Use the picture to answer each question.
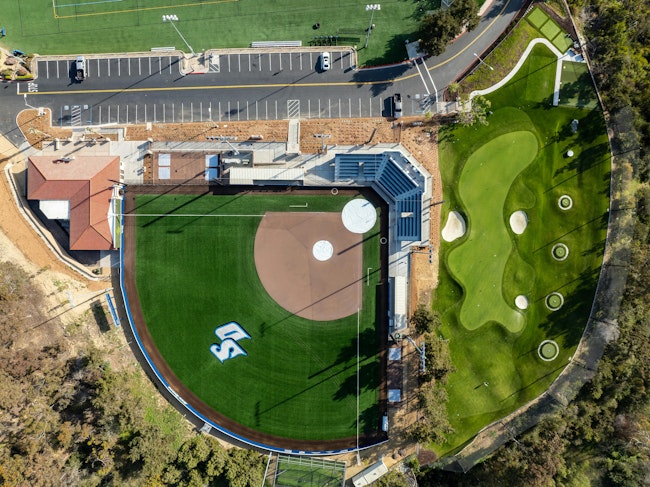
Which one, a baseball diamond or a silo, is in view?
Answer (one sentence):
Visible in the photo is a baseball diamond.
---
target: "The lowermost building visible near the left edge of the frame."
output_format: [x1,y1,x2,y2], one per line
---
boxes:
[27,156,125,250]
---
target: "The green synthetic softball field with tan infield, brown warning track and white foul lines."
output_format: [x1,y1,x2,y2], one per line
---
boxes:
[124,186,388,449]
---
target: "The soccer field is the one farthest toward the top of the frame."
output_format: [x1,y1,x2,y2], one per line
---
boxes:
[0,0,479,68]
